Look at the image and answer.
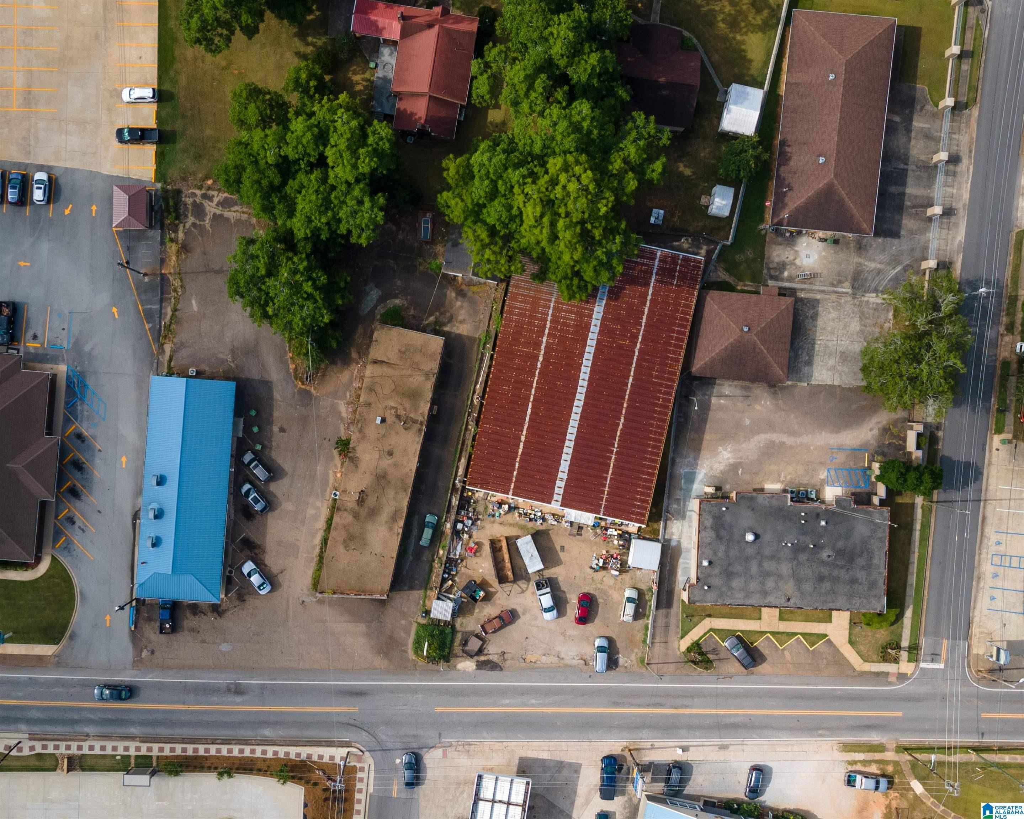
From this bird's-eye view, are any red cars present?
Yes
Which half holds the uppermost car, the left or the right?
left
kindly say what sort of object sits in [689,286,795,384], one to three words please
building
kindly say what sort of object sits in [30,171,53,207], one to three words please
car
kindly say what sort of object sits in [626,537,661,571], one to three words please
shed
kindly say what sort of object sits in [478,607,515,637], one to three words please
truck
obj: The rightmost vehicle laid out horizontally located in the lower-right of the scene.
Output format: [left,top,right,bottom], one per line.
[842,770,887,793]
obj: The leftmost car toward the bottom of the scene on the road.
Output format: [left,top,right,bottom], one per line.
[95,683,133,702]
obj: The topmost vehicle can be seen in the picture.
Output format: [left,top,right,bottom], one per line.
[123,85,161,105]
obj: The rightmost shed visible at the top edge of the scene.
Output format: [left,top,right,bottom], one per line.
[766,8,898,237]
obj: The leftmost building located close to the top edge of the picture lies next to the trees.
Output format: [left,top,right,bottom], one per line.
[351,0,479,144]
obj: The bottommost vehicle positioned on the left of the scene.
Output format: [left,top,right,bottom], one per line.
[400,750,418,789]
